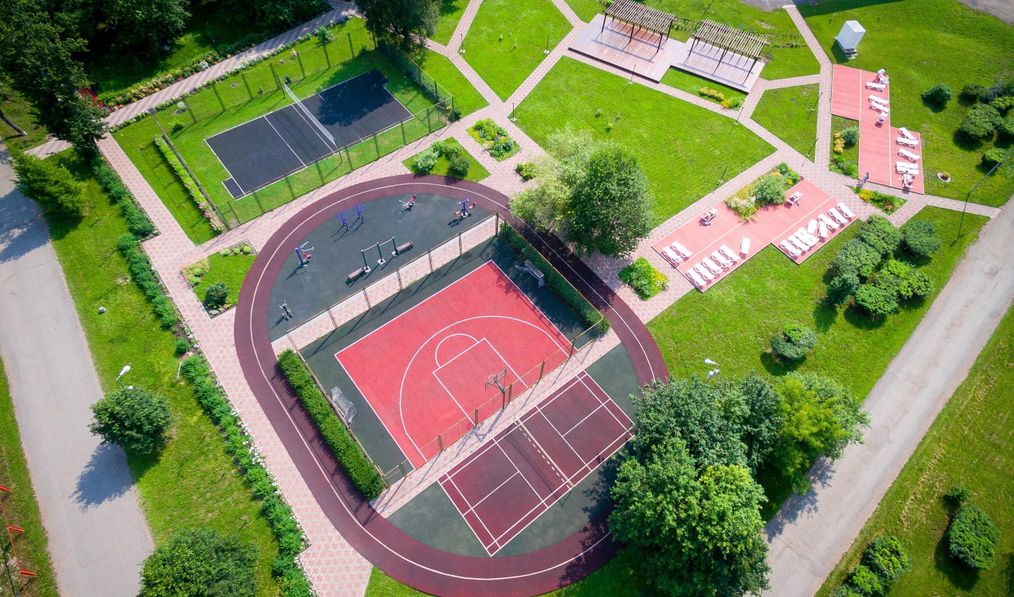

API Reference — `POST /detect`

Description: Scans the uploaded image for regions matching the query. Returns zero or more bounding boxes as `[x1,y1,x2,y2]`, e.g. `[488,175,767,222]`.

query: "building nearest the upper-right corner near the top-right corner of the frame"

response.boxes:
[836,17,868,53]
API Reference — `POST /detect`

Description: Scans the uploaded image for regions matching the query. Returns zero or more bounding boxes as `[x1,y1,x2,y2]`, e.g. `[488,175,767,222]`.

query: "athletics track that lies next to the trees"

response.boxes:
[236,174,674,597]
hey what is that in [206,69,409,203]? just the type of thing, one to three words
sports court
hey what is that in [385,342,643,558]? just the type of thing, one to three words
sports court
